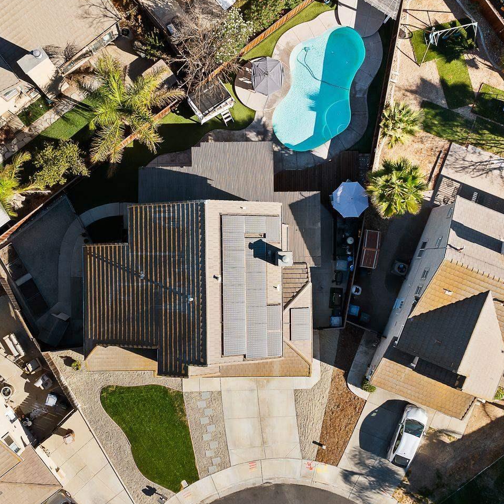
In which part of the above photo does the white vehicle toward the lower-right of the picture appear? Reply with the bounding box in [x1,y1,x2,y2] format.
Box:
[387,404,427,468]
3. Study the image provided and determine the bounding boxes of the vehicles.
[387,404,427,468]
[46,490,76,504]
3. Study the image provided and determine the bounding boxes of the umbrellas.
[331,182,366,218]
[247,59,285,94]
